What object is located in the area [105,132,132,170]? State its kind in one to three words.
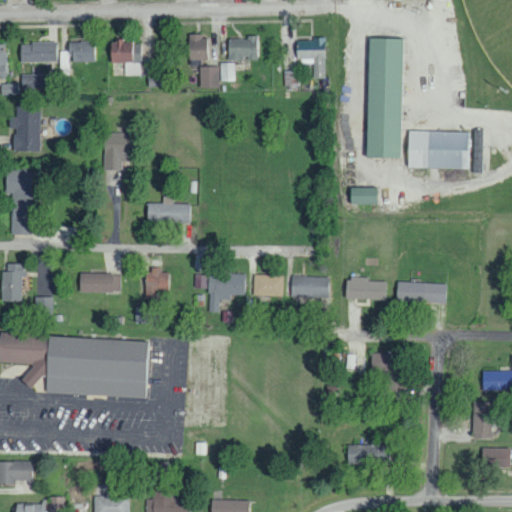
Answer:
house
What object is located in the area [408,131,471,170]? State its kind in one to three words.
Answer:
building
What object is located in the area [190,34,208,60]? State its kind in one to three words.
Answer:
house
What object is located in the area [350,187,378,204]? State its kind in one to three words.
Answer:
barn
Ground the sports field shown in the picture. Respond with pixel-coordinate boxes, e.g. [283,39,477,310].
[462,0,512,88]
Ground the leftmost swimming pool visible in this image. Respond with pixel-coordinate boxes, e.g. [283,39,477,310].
[54,119,72,135]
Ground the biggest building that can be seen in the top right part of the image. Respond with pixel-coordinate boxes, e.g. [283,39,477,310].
[367,38,403,158]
